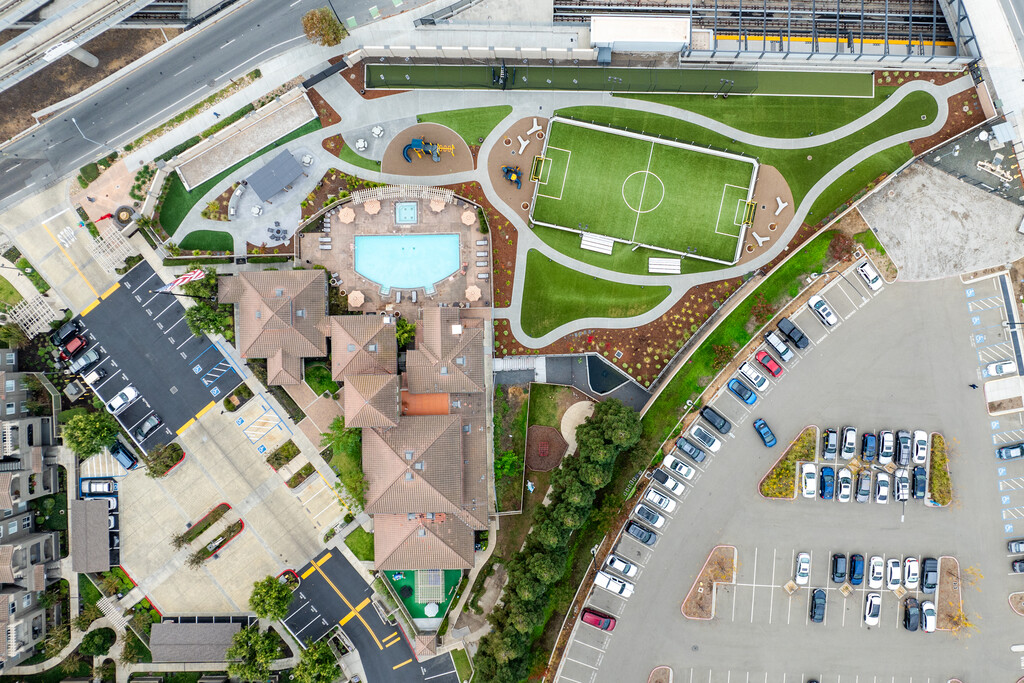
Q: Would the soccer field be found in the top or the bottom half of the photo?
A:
top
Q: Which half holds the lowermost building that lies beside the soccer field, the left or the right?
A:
left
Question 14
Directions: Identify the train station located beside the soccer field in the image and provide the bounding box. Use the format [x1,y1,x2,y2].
[553,0,981,65]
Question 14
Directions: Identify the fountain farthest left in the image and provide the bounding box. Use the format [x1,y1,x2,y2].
[112,205,133,225]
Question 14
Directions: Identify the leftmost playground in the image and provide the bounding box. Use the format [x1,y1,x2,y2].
[402,133,456,163]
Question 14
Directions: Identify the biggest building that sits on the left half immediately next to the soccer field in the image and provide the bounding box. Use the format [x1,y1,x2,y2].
[217,270,488,570]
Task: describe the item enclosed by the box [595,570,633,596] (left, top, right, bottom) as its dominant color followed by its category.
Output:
white truck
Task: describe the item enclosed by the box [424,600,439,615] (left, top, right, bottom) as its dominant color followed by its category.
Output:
white umbrella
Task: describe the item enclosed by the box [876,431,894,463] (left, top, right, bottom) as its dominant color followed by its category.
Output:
white car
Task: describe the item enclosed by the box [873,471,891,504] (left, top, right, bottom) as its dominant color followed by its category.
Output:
white car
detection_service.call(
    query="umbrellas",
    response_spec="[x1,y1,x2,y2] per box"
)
[460,210,477,227]
[364,199,381,216]
[424,600,439,615]
[339,207,357,224]
[348,290,365,307]
[400,584,413,597]
[430,198,446,215]
[465,285,482,302]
